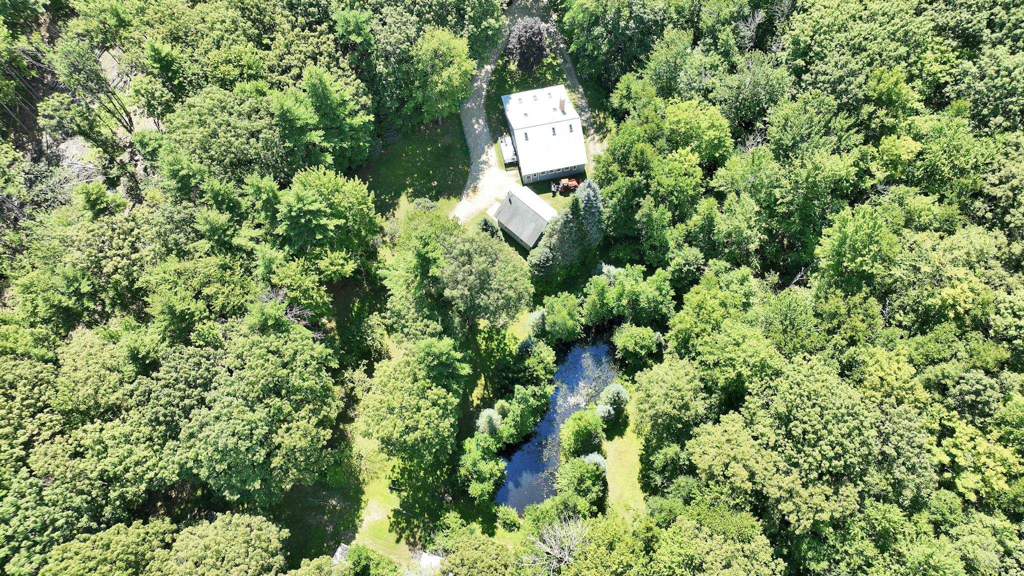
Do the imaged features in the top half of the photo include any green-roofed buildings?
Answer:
No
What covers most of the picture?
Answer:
trees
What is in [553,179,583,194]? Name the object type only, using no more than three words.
work vehicle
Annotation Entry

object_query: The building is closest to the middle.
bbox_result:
[494,188,559,250]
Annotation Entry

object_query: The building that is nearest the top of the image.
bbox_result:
[501,84,588,184]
